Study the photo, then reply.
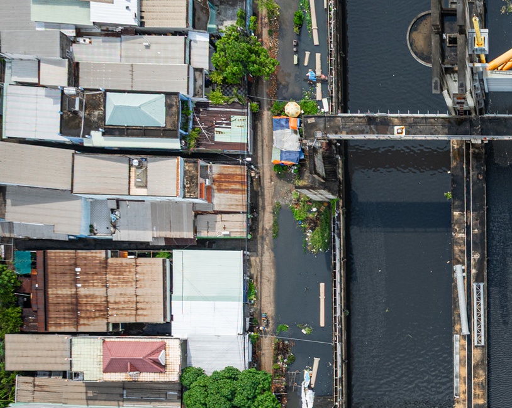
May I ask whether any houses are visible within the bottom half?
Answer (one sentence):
Yes, the scene does show a house within the bottom half.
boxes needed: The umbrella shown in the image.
[285,103,301,116]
